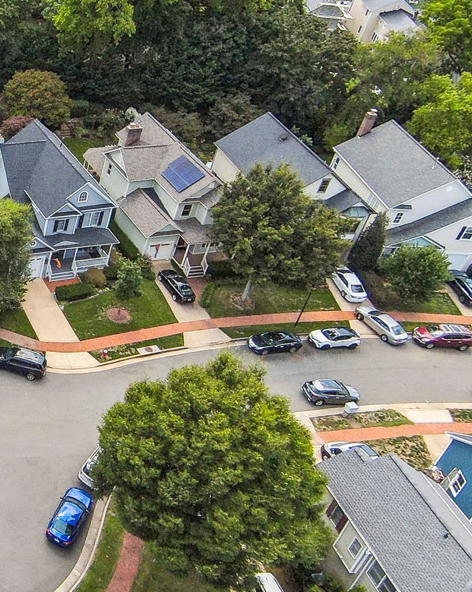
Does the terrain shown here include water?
No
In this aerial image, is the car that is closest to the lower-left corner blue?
Yes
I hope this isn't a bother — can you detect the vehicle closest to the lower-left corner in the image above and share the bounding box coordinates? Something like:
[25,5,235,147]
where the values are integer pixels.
[50,481,94,545]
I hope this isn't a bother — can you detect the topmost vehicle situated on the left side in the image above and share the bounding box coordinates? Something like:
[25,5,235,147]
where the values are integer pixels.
[153,266,197,300]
